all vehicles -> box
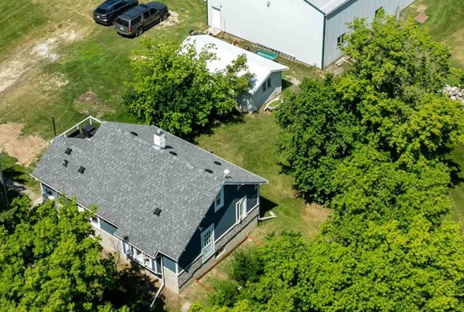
[94,0,144,27]
[117,3,174,38]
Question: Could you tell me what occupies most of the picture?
trees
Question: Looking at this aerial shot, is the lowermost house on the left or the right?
left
